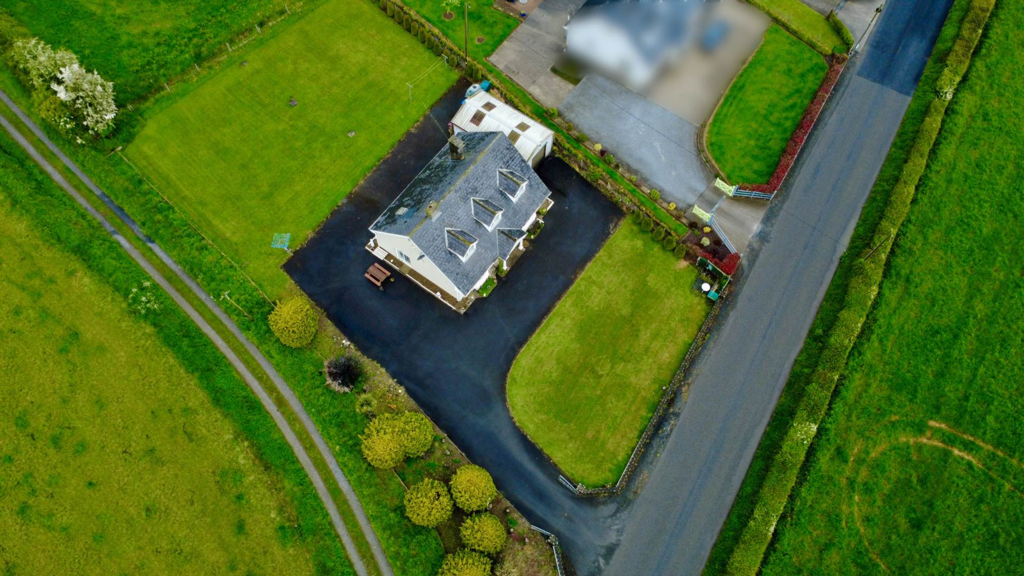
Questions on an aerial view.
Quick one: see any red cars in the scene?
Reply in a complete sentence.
No, no red car is visible in the view.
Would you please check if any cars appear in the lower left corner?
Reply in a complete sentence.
No, the scene shows no car in the lower left corner.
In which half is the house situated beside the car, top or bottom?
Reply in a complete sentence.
You can find the house situated beside the car in the top half.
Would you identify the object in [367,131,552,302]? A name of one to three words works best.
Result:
house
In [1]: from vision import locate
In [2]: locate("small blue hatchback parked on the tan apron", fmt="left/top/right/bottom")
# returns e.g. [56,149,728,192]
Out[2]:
[699,20,731,53]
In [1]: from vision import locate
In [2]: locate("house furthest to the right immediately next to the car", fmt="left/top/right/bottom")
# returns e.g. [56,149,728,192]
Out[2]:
[565,0,710,91]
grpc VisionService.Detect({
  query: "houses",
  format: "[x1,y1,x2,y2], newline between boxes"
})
[565,0,710,91]
[367,131,552,302]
